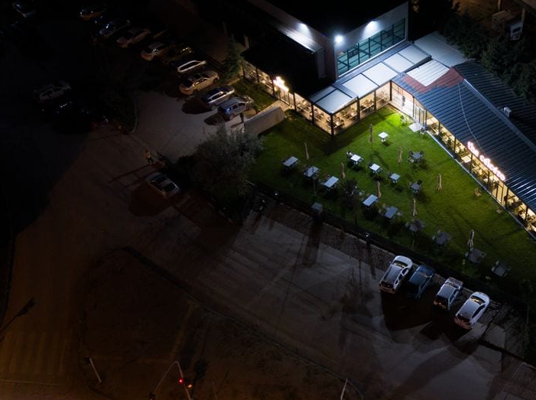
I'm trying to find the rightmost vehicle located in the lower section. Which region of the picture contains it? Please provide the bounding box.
[452,290,491,330]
